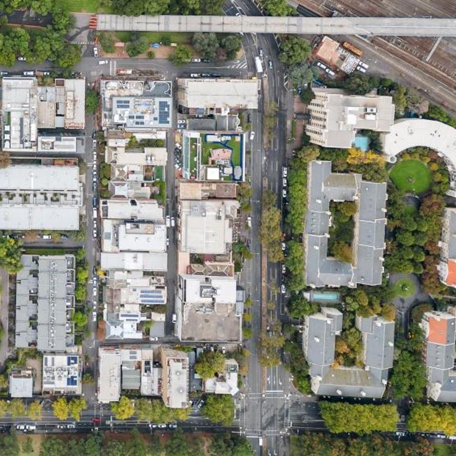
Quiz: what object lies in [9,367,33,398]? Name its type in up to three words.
house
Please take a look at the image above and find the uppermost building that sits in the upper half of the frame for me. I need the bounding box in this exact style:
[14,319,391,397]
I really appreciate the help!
[312,36,359,72]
